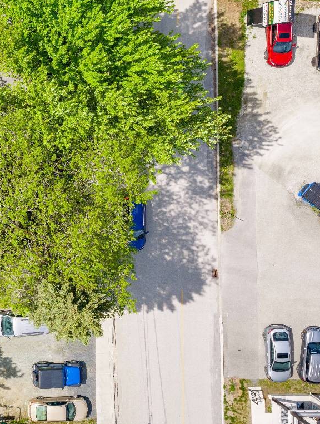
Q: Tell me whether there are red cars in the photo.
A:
Yes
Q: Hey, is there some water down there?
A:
No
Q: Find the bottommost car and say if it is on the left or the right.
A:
left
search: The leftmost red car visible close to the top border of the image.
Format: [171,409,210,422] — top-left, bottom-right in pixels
[263,20,296,71]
